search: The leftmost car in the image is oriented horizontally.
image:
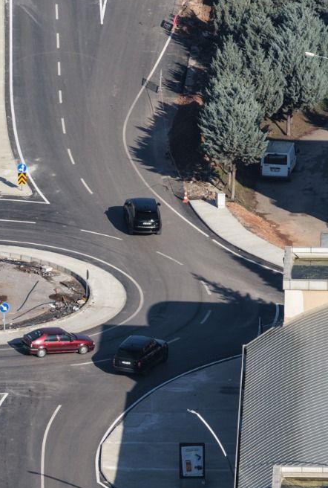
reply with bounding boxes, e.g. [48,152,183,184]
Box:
[20,325,97,357]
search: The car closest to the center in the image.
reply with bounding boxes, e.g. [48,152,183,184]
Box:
[121,196,161,231]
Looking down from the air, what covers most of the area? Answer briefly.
paved ground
